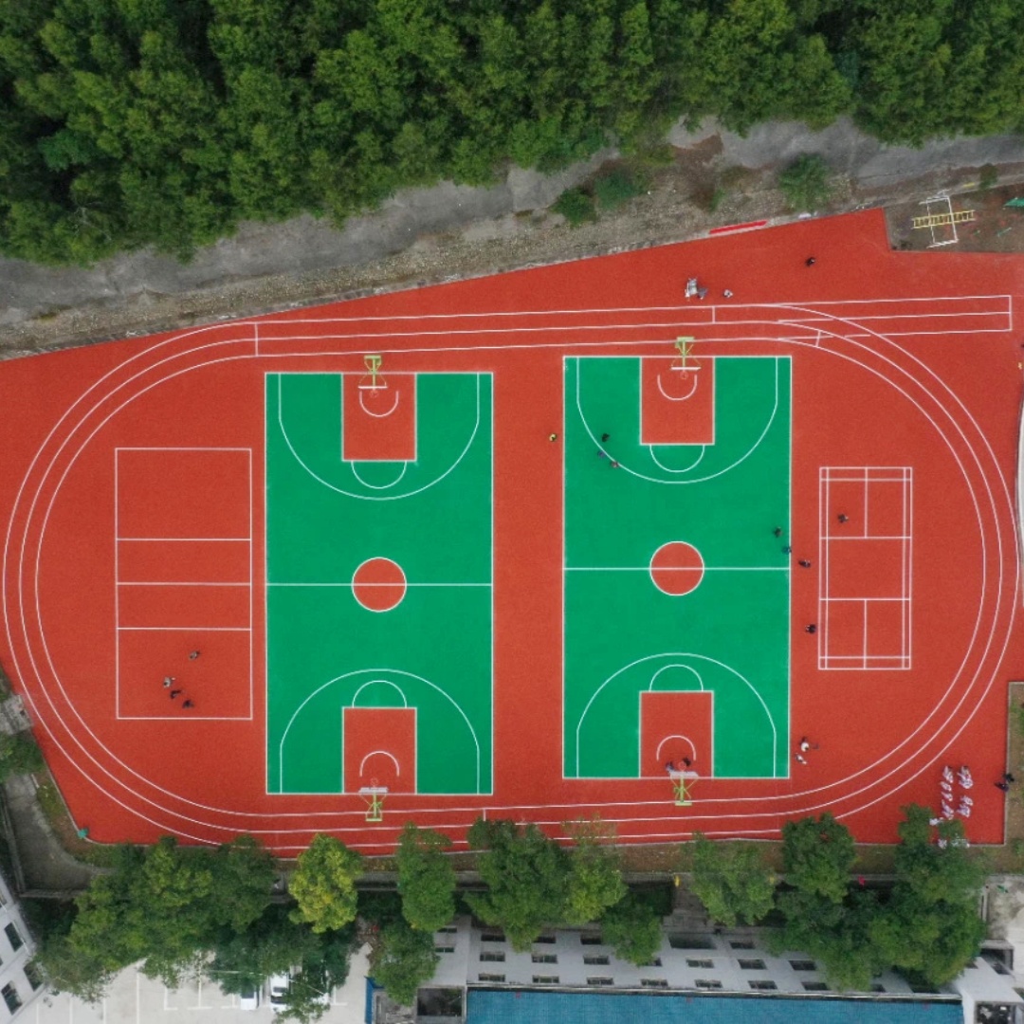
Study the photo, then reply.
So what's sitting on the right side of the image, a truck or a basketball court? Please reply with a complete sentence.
Looking on the right side of the image, you will find a basketball court.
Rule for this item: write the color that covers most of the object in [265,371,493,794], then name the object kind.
green basketball court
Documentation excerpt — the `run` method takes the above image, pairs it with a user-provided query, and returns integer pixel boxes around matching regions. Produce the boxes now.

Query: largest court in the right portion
[563,356,792,779]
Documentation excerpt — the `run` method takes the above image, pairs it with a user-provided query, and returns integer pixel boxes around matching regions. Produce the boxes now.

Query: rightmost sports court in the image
[818,466,914,670]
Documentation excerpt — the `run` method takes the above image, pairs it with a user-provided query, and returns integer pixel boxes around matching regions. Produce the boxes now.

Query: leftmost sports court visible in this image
[114,447,253,719]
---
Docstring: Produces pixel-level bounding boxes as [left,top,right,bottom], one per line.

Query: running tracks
[0,208,1024,859]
